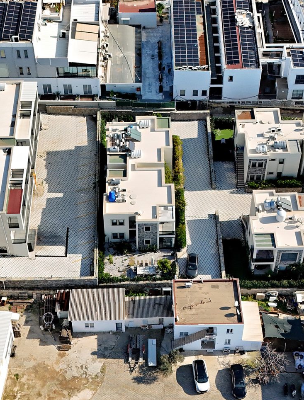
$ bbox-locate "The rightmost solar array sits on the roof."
[291,50,304,67]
